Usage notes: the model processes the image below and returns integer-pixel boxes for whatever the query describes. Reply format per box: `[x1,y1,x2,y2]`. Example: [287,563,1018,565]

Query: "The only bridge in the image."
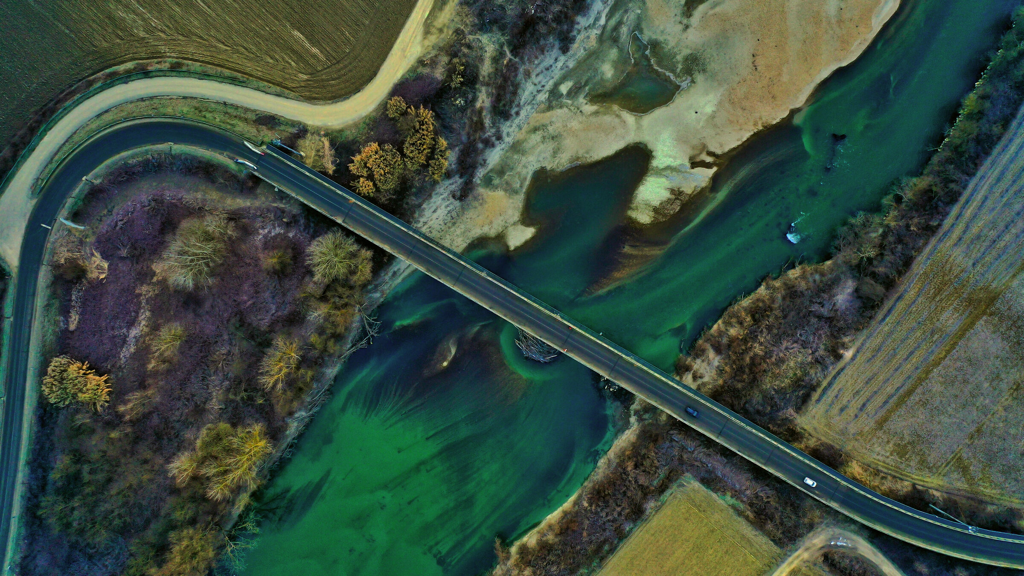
[250,142,853,516]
